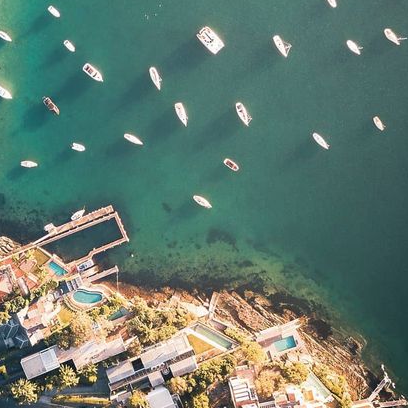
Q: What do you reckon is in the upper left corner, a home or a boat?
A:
boat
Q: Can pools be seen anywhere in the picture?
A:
Yes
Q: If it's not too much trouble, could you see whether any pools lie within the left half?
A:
Yes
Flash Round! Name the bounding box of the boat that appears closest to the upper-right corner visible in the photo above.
[384,28,403,45]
